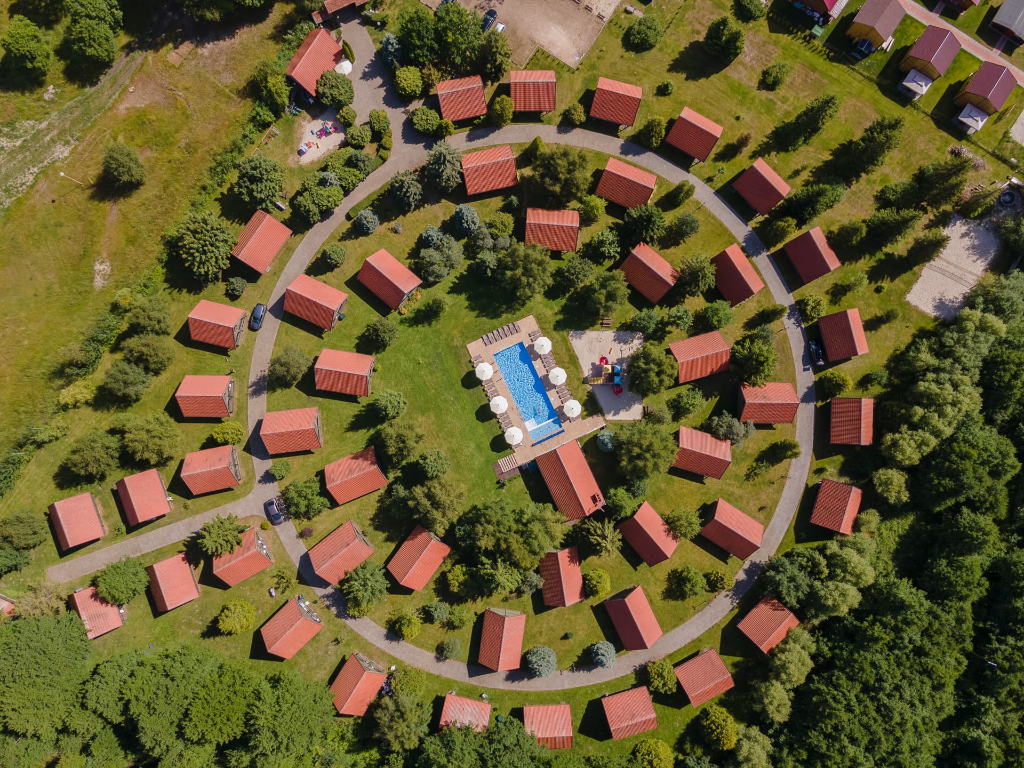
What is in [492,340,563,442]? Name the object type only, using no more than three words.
swimming pool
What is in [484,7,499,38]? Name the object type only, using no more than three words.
car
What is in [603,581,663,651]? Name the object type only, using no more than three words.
building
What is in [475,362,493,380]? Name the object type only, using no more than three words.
umbrella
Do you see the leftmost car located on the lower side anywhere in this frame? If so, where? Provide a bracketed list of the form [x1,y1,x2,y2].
[267,497,285,525]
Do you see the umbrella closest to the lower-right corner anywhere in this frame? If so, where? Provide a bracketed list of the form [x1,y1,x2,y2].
[563,399,581,418]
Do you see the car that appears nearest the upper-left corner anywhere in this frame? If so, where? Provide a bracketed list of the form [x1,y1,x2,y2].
[250,303,267,331]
